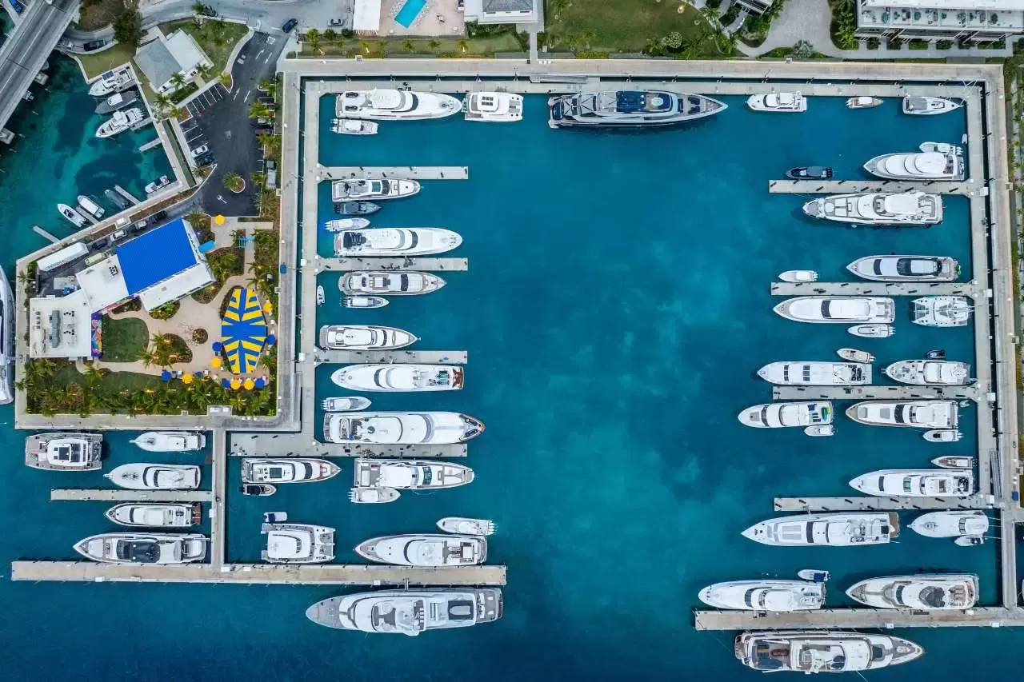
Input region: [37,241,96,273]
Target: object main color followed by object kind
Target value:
white truck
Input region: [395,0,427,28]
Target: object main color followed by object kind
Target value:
blue swimming pool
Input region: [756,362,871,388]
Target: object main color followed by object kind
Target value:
white boat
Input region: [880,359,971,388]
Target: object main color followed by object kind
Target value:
white boat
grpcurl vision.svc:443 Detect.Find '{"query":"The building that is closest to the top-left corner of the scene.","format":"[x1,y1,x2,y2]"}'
[133,29,215,97]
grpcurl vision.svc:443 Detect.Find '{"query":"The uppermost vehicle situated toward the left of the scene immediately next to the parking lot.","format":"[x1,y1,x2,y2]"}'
[282,18,297,33]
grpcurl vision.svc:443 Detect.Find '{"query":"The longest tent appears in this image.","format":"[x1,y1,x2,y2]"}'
[222,288,268,373]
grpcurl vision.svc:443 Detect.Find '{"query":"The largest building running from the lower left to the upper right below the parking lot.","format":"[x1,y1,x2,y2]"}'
[29,217,219,360]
